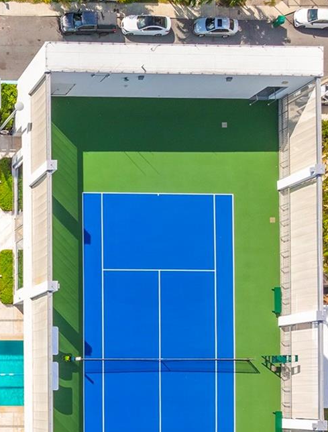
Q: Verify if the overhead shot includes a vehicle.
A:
Yes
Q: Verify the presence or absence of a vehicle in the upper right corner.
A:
Yes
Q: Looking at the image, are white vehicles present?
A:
Yes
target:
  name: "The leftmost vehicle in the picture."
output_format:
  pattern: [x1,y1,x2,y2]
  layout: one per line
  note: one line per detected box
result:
[58,8,117,36]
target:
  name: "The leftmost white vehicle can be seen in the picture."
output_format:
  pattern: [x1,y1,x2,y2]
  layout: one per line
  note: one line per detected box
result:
[119,13,171,38]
